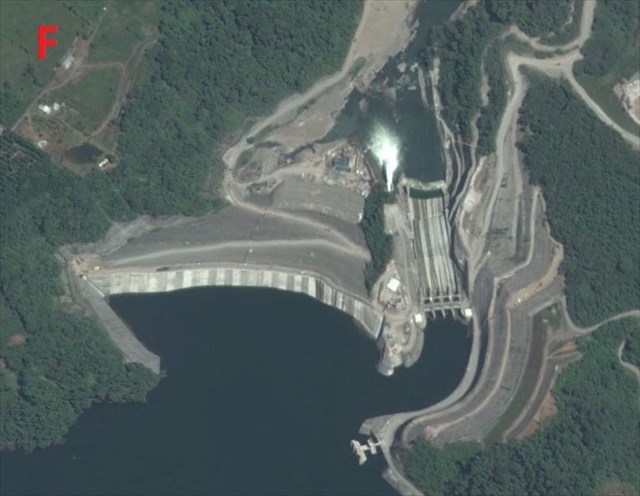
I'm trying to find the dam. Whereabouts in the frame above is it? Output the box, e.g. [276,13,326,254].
[76,205,384,339]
